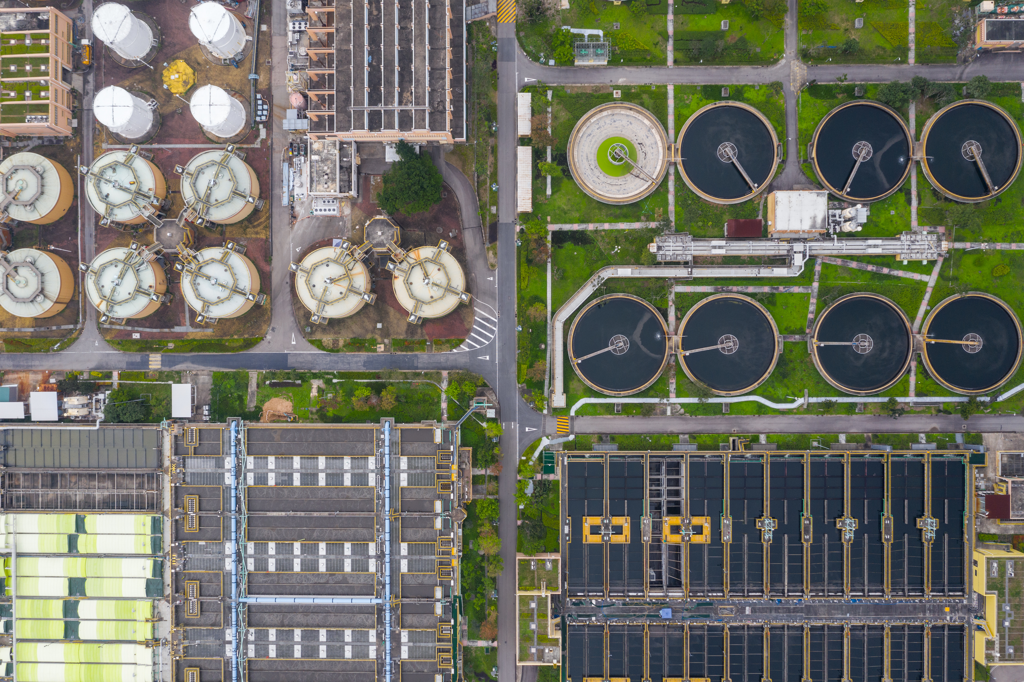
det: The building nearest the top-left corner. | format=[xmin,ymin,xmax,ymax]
[0,7,75,135]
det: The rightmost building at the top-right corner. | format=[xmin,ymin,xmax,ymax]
[973,19,1024,53]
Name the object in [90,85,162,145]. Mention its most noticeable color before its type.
white storage tank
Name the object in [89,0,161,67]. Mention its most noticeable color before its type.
white storage tank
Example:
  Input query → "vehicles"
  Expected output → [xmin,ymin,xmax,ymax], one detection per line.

[68,37,91,72]
[282,409,296,420]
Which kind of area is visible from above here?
industrial area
